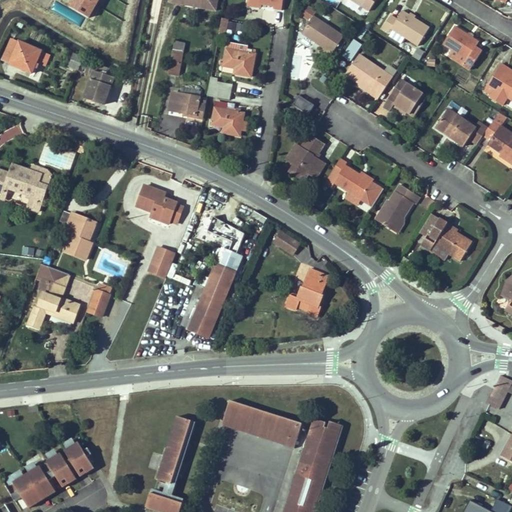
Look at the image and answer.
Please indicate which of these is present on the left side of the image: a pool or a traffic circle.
pool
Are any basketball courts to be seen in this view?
No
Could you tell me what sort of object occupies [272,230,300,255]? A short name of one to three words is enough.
shed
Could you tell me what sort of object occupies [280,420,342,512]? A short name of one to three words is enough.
building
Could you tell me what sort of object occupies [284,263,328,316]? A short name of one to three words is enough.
house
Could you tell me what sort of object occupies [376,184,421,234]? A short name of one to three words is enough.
house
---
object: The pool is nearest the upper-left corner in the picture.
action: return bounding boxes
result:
[50,0,88,28]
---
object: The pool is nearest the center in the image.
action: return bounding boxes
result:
[92,248,131,276]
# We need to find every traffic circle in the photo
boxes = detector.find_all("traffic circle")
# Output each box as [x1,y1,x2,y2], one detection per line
[336,270,496,442]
